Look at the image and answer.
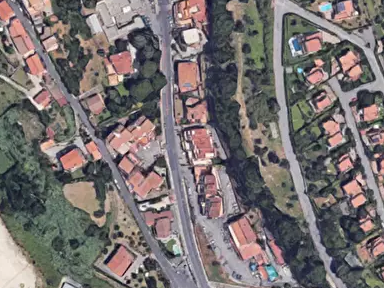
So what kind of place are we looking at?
residential area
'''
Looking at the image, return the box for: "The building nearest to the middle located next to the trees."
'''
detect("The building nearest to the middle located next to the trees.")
[185,127,216,166]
